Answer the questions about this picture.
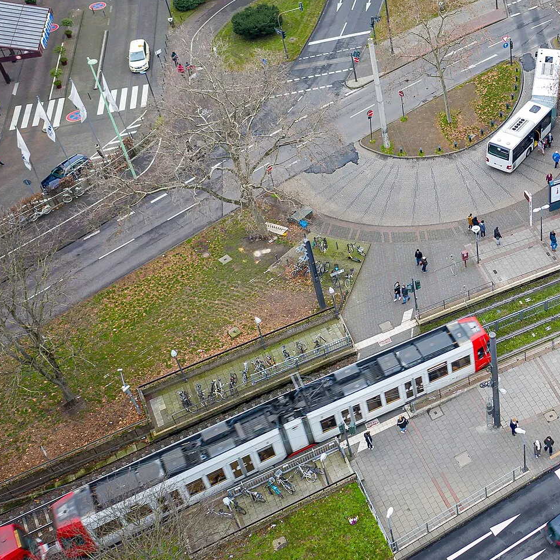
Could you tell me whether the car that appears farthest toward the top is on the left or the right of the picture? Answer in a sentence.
The car that appears farthest toward the top appears in the left half of the scene.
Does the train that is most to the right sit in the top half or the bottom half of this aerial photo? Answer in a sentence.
The train that is most to the right sits in the bottom half of the picture.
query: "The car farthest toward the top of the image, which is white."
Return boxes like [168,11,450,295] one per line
[128,40,147,67]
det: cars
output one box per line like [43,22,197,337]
[36,156,93,187]
[541,514,560,555]
[128,40,147,67]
